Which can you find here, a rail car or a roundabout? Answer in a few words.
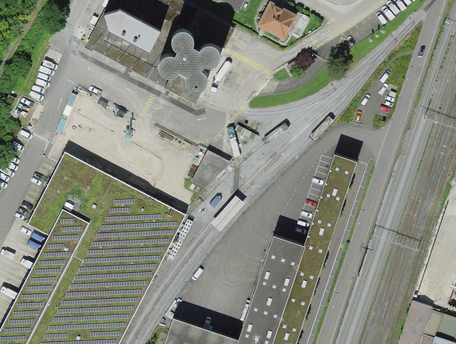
rail car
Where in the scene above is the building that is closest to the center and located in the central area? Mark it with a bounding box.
[192,149,232,188]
